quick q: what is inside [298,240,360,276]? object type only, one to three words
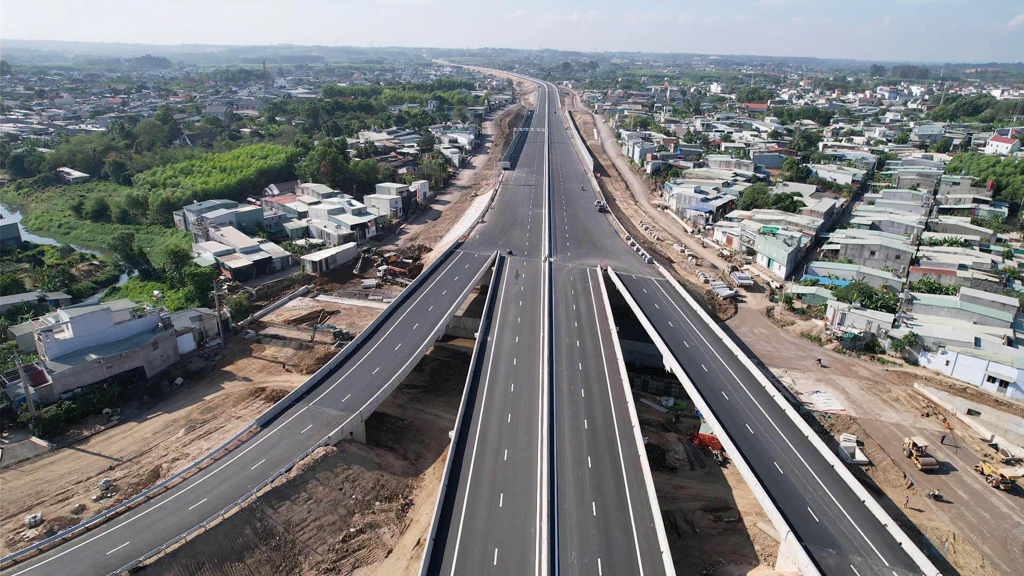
house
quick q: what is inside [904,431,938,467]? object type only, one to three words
work vehicle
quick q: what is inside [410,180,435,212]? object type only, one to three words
house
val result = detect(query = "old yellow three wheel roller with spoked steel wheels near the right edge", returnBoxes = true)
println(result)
[978,461,1024,491]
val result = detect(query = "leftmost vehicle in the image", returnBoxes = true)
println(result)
[309,315,352,342]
